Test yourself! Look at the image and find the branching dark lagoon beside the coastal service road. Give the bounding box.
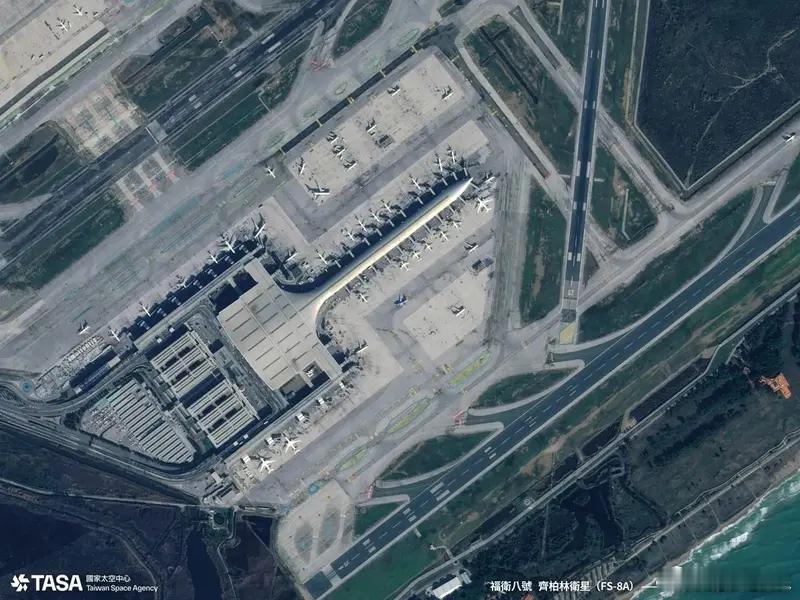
[552,485,626,555]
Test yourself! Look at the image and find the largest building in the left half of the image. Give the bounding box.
[133,177,473,467]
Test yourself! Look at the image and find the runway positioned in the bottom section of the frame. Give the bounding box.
[299,196,800,600]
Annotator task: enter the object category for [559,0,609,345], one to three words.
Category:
runway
